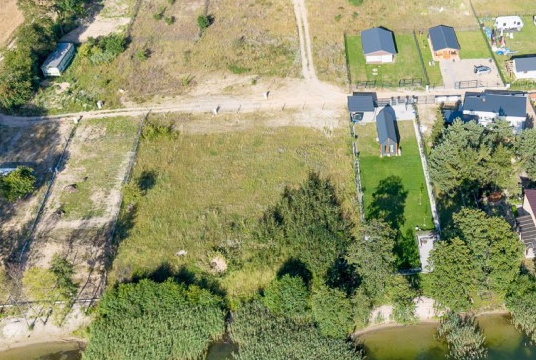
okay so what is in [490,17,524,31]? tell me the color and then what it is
white camper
